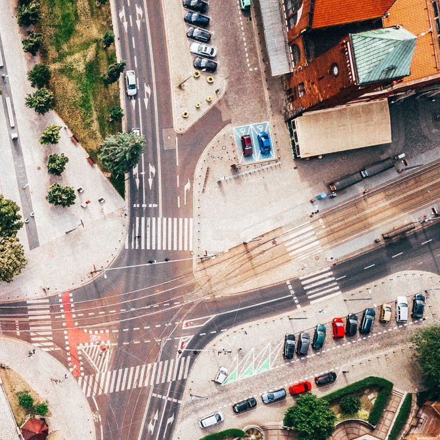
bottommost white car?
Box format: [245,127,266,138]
[200,412,225,429]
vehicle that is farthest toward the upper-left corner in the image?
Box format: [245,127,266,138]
[126,68,139,95]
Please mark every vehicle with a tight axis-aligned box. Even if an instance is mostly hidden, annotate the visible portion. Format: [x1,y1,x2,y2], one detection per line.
[243,0,254,12]
[215,366,229,385]
[189,26,212,41]
[262,389,289,404]
[290,380,314,395]
[412,293,429,319]
[126,68,139,95]
[382,302,394,323]
[200,412,225,429]
[316,372,339,386]
[235,398,258,414]
[194,56,218,71]
[258,130,272,153]
[333,316,347,339]
[285,333,299,358]
[298,333,313,355]
[185,10,212,25]
[191,42,217,56]
[243,133,255,154]
[346,313,362,336]
[313,323,330,350]
[131,127,143,146]
[397,296,414,322]
[361,308,378,334]
[185,0,208,11]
